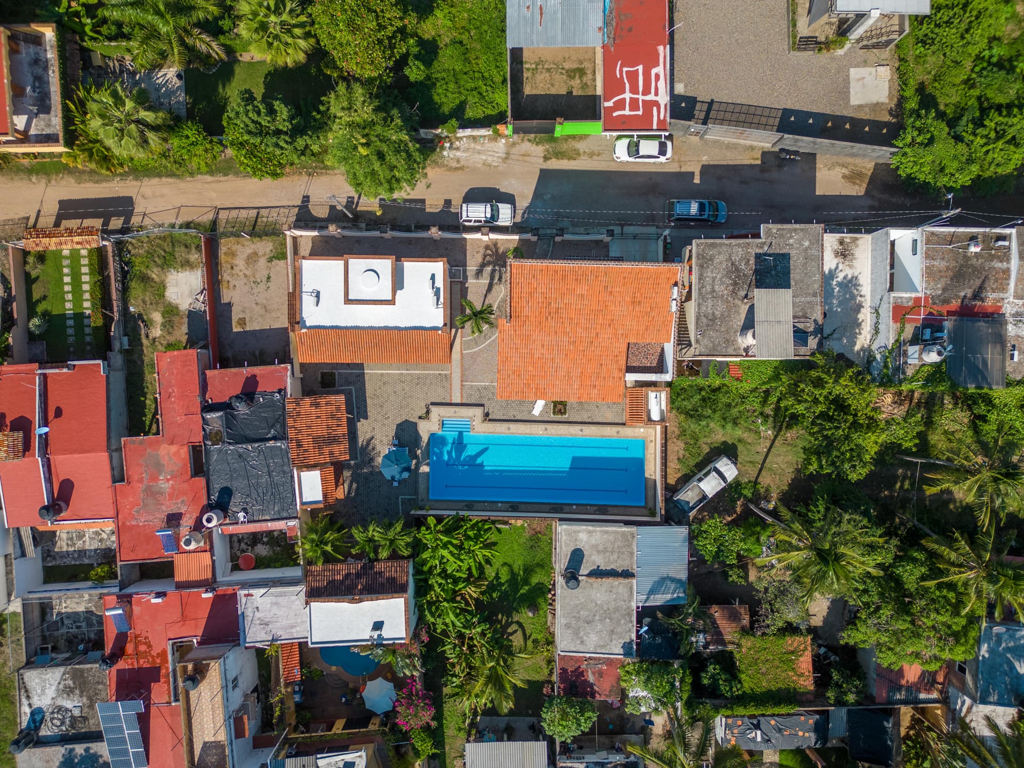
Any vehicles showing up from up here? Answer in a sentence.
Yes, this view includes a vehicle.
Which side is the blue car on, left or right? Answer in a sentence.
You can find the blue car on the right side of the picture.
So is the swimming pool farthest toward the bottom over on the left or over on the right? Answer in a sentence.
It is on the left.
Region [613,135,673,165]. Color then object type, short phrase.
white car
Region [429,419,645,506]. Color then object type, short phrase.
blue swimming pool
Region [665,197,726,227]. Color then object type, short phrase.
blue car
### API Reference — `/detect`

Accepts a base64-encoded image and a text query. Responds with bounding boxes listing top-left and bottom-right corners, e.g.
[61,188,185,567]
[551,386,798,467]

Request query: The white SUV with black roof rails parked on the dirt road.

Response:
[459,200,514,229]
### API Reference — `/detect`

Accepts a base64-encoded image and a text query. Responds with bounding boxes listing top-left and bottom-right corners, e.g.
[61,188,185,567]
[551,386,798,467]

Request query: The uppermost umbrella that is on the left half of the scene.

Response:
[379,445,413,479]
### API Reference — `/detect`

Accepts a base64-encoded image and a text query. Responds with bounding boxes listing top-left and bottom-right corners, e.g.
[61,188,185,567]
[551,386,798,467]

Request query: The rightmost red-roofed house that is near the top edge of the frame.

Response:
[600,0,669,140]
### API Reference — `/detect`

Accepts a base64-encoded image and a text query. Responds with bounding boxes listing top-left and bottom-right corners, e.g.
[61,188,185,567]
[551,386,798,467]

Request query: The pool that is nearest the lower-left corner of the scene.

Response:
[320,645,385,675]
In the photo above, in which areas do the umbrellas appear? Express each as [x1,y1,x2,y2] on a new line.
[362,674,398,710]
[379,445,413,479]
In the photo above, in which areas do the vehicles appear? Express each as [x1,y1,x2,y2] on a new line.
[665,197,726,227]
[670,455,739,517]
[459,200,514,229]
[613,135,673,165]
[776,149,802,159]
